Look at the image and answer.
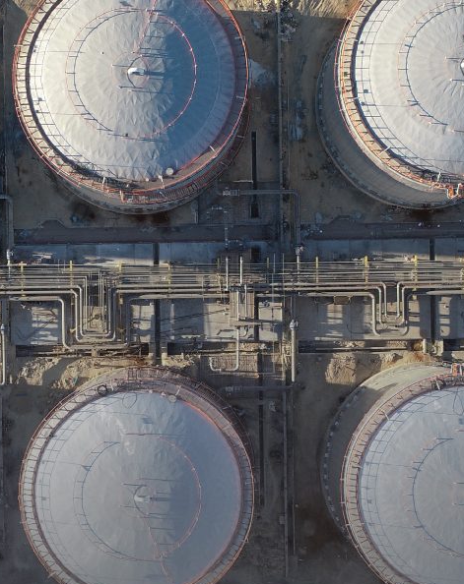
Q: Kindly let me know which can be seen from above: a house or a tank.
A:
tank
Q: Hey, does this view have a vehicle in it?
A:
No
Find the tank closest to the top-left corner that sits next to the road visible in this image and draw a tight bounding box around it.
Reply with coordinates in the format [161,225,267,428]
[12,0,248,216]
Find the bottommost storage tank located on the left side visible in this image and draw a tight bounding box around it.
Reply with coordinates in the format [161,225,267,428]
[20,365,253,584]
